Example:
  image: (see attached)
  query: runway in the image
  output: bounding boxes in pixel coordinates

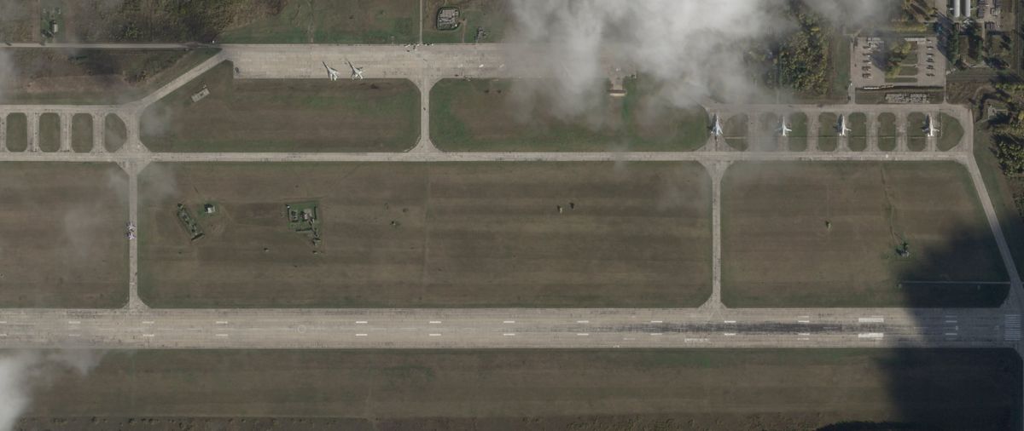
[0,297,1024,431]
